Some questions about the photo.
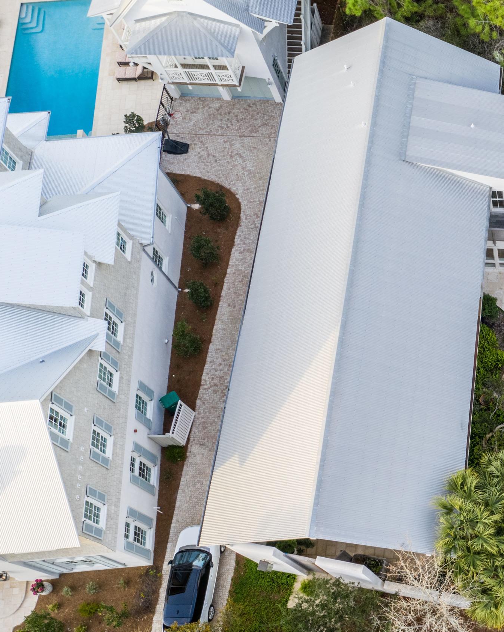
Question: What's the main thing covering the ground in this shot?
buildings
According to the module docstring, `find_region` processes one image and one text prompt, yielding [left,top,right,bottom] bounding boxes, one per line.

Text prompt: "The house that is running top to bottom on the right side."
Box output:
[197,17,504,559]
